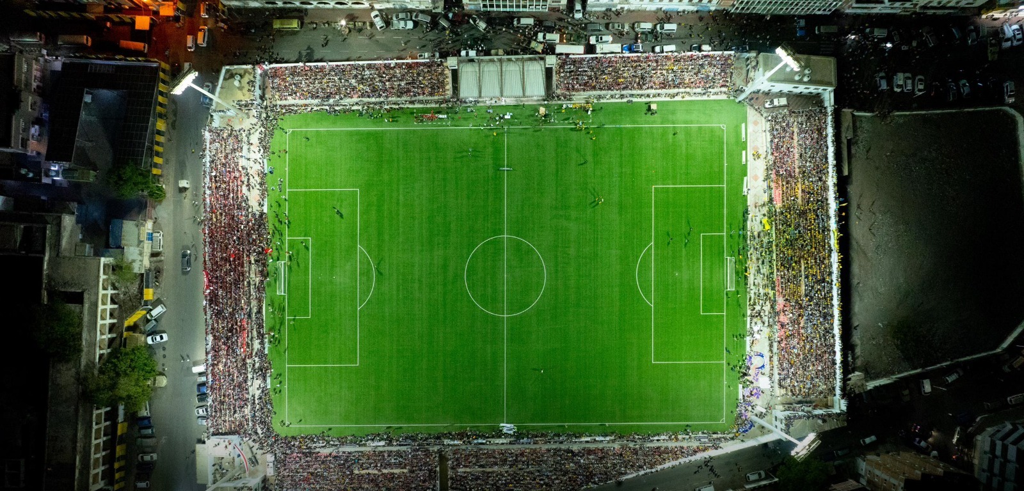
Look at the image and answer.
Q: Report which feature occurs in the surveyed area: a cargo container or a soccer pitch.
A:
soccer pitch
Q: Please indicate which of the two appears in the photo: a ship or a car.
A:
car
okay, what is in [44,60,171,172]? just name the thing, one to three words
building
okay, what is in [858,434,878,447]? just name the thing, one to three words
vehicle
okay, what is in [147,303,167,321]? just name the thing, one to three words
car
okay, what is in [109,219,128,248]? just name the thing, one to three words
shed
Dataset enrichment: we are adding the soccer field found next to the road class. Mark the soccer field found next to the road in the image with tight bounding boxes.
[267,98,748,438]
